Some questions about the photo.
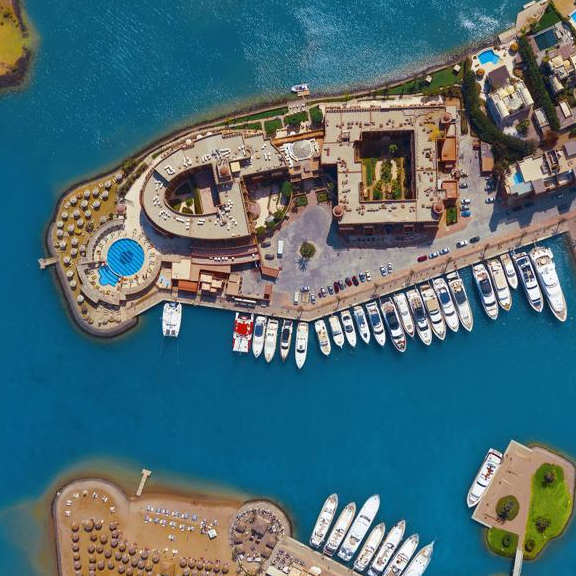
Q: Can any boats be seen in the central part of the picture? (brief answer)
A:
Yes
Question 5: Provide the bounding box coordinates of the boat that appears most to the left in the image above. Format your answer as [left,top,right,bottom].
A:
[161,303,182,337]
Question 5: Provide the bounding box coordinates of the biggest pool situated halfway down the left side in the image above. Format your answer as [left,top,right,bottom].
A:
[106,238,145,277]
